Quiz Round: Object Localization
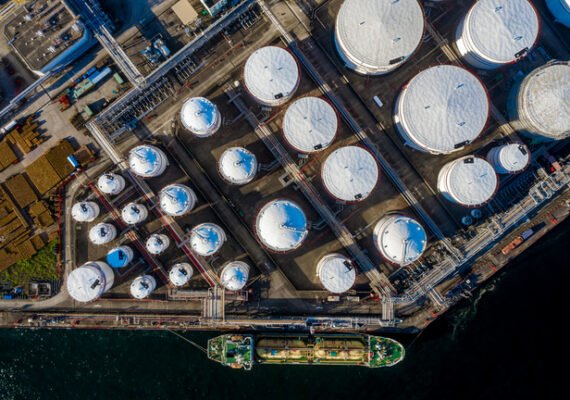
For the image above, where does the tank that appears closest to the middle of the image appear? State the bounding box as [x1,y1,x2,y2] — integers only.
[255,198,308,251]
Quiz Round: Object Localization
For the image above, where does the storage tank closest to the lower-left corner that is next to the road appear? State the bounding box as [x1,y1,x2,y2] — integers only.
[66,260,117,304]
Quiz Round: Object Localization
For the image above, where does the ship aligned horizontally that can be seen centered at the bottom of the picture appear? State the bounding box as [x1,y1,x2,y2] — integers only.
[207,332,405,371]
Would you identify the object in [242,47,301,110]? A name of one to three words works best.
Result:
storage tank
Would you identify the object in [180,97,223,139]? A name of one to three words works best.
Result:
storage tank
